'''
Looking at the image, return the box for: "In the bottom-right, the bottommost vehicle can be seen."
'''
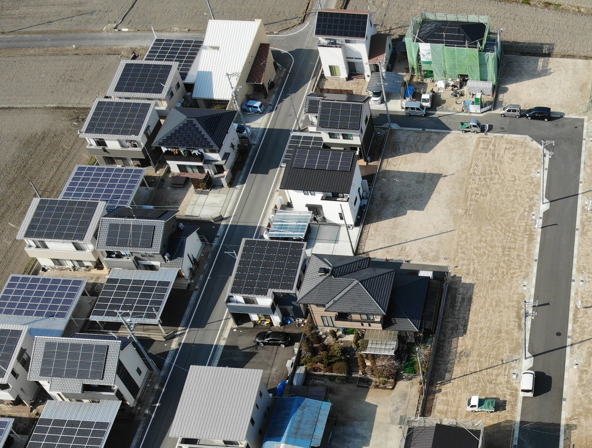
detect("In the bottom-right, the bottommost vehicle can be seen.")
[467,396,495,412]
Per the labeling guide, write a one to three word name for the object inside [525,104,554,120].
car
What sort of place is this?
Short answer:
residential area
